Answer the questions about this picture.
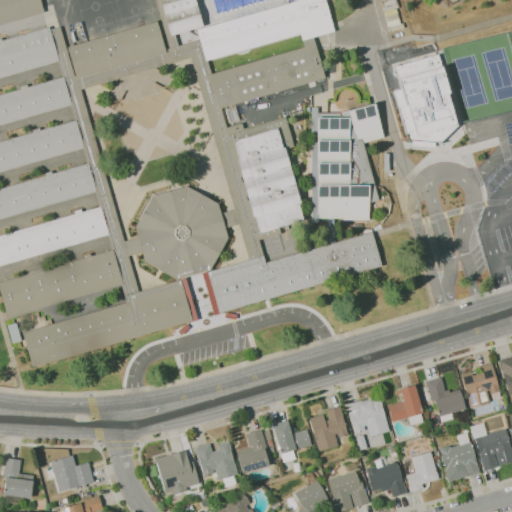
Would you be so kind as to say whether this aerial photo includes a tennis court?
Yes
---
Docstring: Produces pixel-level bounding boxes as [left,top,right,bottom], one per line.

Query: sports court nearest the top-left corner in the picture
[54,0,160,45]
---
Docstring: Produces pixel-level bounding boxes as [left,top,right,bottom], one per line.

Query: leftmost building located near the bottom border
[4,459,34,499]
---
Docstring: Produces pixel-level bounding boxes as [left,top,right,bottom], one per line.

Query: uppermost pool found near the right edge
[474,400,500,418]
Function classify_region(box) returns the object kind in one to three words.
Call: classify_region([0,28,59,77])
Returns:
building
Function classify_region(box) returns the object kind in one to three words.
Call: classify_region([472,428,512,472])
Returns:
house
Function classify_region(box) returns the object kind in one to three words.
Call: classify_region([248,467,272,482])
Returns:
swimming pool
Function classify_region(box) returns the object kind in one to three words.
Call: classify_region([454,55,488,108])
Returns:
tennis court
